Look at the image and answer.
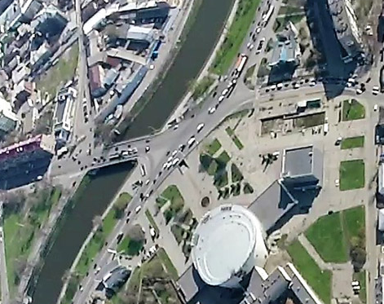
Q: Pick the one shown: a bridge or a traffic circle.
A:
bridge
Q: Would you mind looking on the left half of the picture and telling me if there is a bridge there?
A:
Yes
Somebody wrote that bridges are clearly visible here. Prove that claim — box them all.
[80,130,159,181]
